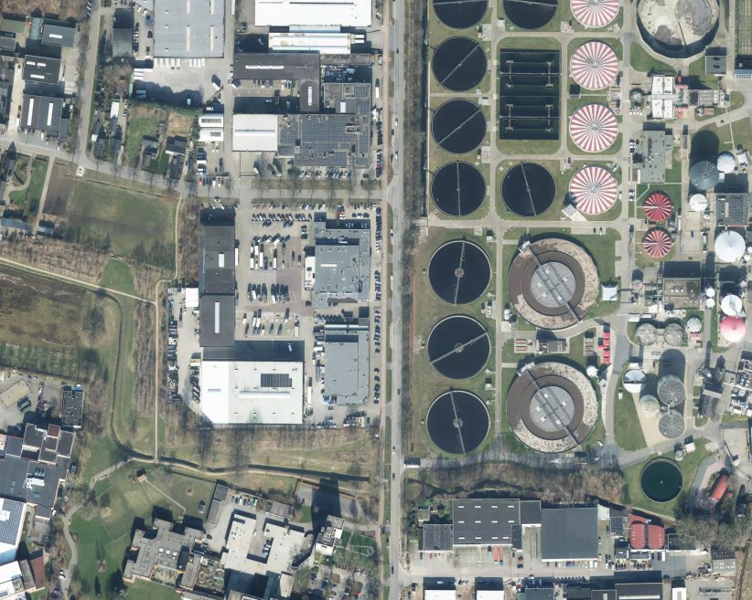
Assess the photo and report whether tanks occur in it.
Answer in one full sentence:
Yes, the frame does contain a tank.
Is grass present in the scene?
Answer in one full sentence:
Yes, the picture does contain grass.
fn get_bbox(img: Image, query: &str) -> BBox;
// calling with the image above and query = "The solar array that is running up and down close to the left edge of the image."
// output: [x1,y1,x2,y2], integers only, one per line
[0,501,23,545]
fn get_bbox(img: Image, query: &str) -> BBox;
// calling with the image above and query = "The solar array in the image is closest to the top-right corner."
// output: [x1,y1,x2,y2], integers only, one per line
[729,200,746,221]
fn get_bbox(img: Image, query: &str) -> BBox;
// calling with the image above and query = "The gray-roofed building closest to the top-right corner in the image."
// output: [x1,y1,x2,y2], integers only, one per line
[705,56,727,74]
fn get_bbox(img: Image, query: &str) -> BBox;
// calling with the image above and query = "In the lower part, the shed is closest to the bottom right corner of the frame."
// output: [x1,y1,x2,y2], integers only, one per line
[713,559,736,574]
